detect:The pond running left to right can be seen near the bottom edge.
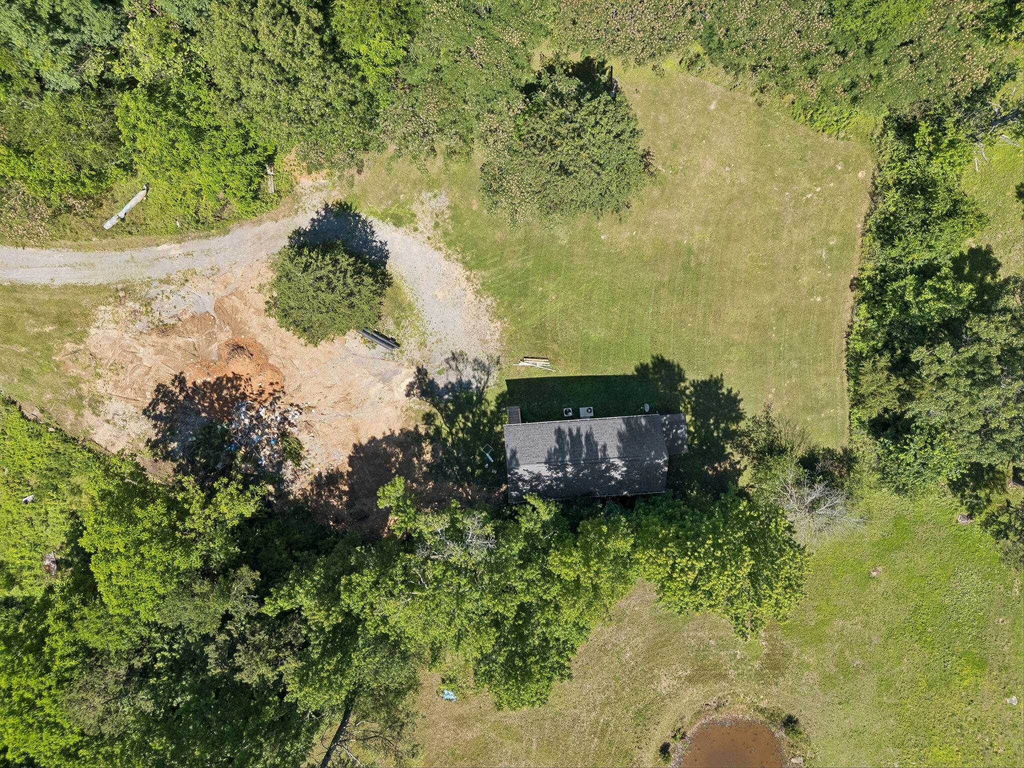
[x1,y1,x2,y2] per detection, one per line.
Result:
[672,714,789,768]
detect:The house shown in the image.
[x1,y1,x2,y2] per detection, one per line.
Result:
[504,412,688,508]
